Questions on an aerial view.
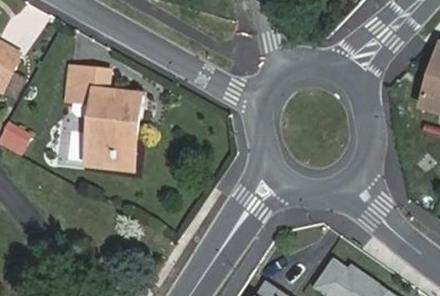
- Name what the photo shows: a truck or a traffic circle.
traffic circle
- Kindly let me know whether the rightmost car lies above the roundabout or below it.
below it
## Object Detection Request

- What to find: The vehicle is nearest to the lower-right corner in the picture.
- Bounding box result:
[286,263,306,282]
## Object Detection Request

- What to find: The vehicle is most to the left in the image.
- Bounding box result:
[266,256,286,273]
